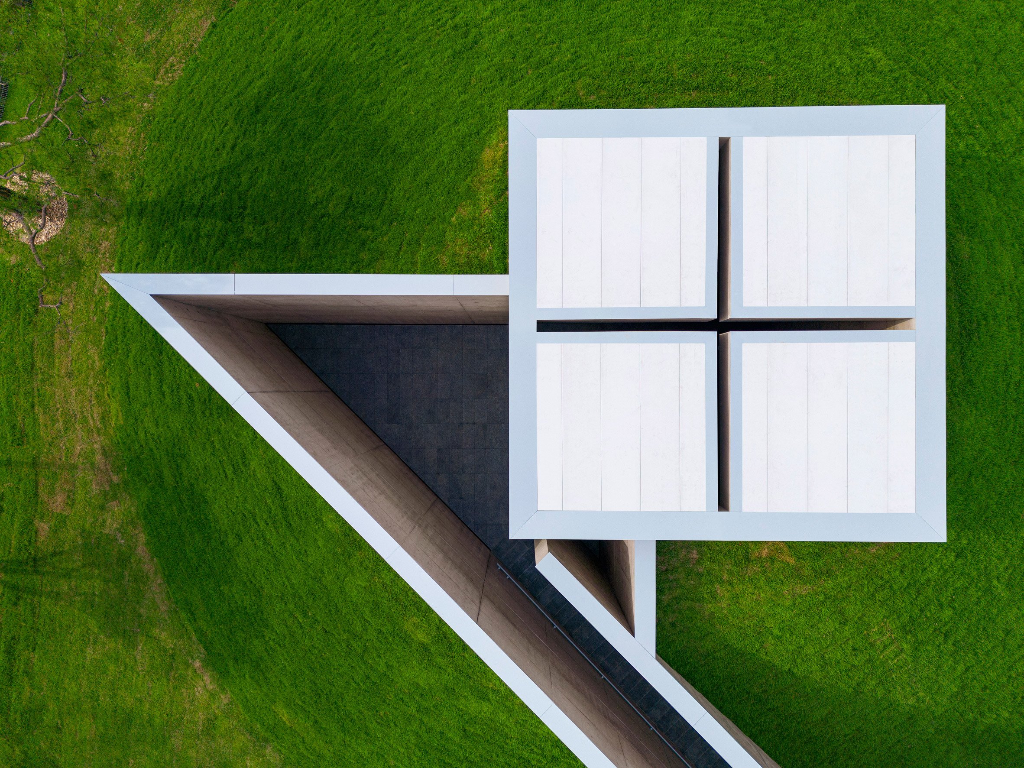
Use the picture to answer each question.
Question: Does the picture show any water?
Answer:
No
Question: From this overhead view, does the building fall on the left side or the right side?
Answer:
right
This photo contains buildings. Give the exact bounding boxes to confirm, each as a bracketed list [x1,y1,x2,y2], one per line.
[508,105,946,542]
